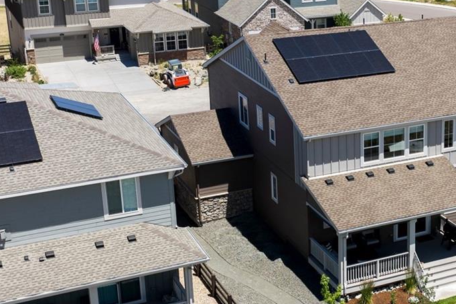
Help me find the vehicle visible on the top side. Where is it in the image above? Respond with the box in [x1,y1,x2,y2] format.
[153,57,192,86]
